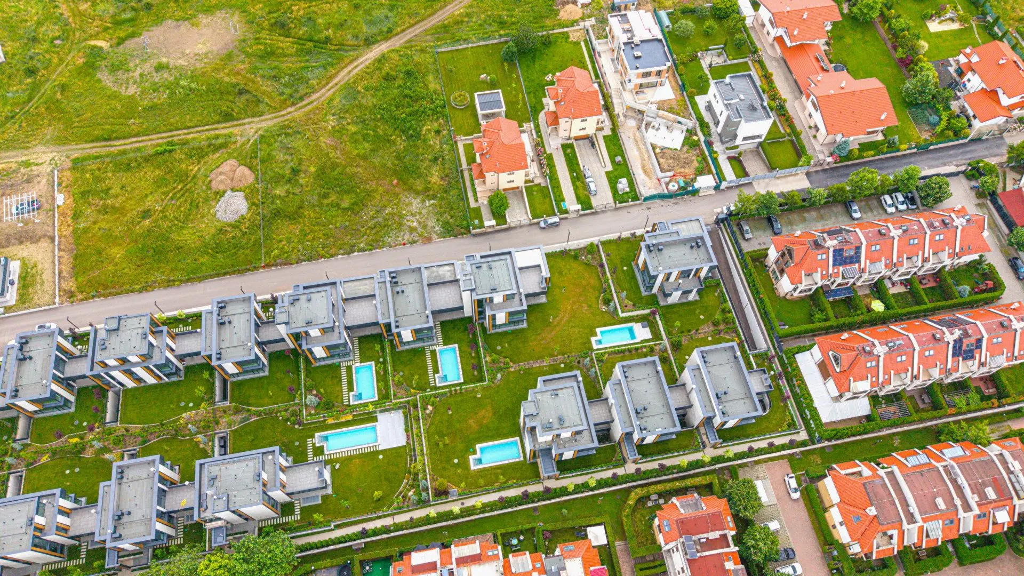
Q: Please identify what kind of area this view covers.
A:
residential area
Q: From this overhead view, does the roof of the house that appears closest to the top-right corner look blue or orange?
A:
orange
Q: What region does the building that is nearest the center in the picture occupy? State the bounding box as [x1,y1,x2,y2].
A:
[463,245,550,336]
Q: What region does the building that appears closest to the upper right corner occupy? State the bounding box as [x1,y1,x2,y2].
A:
[949,40,1024,130]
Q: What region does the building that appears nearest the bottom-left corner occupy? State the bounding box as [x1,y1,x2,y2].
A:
[0,489,98,571]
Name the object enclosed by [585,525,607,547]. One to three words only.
gazebo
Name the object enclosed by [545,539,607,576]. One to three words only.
house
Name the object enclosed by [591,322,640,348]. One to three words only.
swimming pool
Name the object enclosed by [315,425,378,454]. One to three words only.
swimming pool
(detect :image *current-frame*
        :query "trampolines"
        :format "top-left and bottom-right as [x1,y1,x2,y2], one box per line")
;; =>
[333,562,354,576]
[832,63,846,73]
